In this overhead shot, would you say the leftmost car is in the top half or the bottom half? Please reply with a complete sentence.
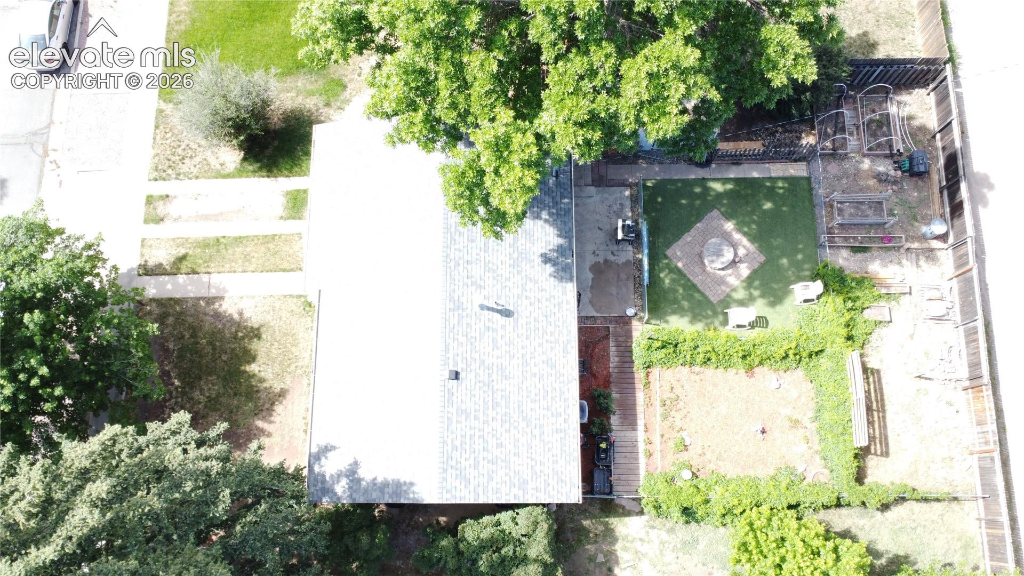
The leftmost car sits in the top half of the picture.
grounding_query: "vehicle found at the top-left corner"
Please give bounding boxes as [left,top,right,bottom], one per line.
[14,0,74,71]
